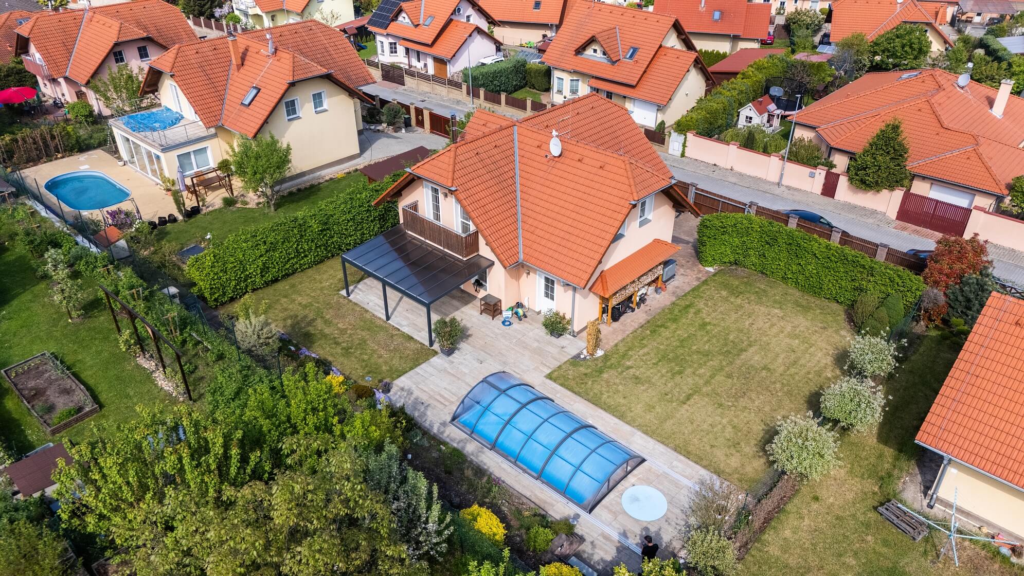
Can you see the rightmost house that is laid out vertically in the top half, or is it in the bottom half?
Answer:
bottom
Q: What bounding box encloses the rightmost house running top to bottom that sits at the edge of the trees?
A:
[912,288,1024,544]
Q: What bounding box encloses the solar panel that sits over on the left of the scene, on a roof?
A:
[355,0,399,25]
